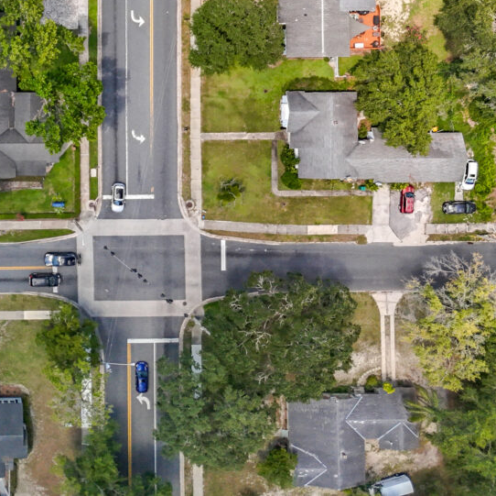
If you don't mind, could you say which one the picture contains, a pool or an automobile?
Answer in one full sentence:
The image shows an automobile.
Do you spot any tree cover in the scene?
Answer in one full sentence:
Yes, there's tree cover in this view.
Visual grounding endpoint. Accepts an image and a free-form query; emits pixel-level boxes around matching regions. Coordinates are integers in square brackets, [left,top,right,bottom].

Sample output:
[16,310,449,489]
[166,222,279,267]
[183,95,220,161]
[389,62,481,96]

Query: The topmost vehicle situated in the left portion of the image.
[111,181,126,211]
